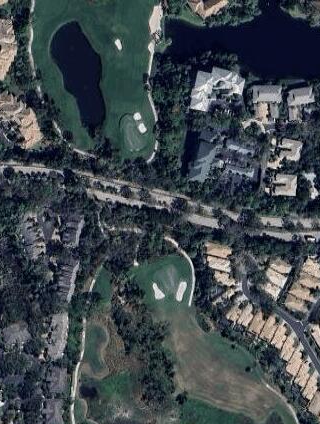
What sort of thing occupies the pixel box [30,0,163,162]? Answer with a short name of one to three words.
golf course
